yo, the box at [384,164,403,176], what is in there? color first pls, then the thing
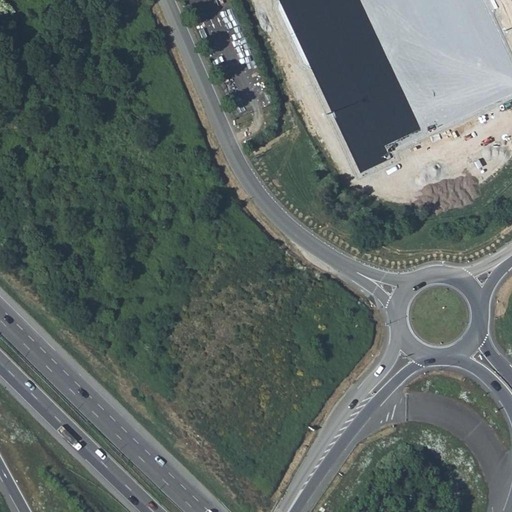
white vehicle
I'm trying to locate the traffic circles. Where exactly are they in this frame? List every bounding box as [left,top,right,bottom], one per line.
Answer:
[385,266,490,367]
